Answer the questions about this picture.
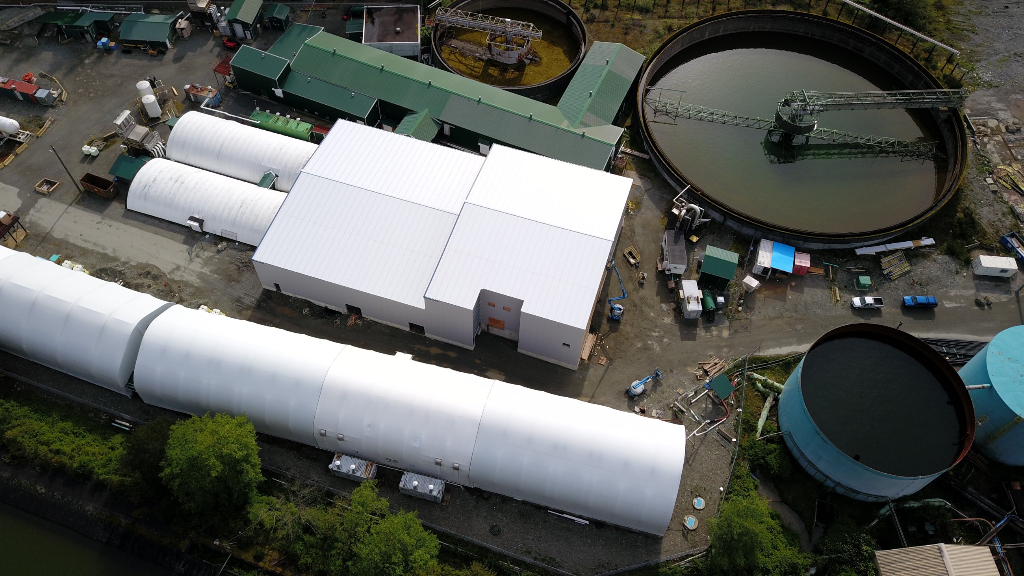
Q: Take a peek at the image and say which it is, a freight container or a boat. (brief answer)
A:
freight container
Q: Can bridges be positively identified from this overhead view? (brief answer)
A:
Yes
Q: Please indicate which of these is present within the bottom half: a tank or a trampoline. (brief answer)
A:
tank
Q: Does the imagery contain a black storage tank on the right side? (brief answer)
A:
Yes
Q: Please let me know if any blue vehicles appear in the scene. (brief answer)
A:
Yes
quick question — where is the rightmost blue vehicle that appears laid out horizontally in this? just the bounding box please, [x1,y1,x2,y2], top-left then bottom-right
[901,294,943,310]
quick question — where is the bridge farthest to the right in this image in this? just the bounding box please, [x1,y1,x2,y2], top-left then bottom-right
[648,88,967,165]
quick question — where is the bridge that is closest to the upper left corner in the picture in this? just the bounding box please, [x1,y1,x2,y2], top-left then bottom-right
[420,7,542,40]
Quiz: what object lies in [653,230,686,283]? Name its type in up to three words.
trailer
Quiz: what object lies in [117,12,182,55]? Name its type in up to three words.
shed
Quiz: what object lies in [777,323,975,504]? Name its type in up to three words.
storage tank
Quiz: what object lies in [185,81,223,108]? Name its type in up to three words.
shipping container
